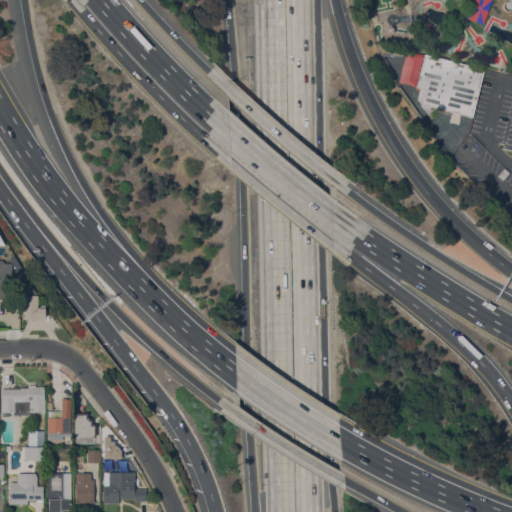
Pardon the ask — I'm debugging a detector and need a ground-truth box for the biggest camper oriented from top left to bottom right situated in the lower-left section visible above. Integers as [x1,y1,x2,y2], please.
[103,407,119,424]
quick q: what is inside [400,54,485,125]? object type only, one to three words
building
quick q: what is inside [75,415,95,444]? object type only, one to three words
house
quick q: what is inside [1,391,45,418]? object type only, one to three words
house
